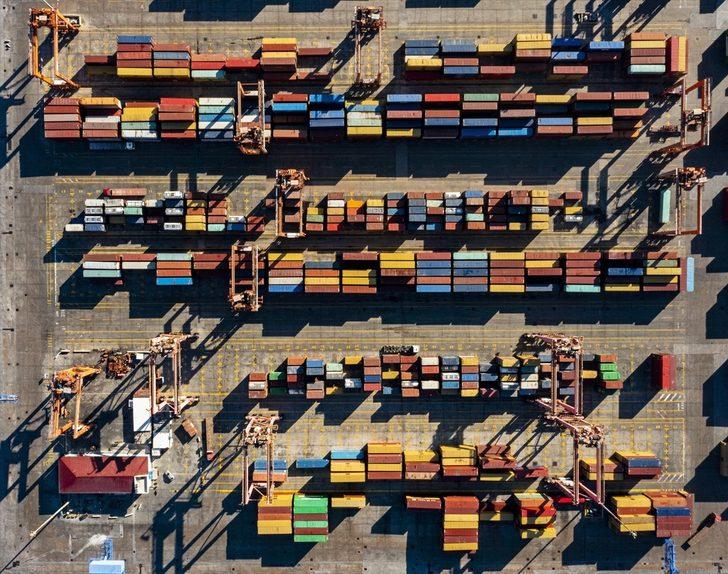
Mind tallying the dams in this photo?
none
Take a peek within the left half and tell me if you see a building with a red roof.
Yes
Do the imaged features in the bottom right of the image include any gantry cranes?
Yes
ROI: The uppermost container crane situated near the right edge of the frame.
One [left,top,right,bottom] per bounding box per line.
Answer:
[644,78,714,160]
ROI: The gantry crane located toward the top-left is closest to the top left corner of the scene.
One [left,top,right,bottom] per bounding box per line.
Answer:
[26,2,94,97]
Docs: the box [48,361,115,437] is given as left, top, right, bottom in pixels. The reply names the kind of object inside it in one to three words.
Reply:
container crane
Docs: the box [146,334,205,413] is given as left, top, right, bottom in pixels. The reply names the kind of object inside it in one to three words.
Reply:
container crane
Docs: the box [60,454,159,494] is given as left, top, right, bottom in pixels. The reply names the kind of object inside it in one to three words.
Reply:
building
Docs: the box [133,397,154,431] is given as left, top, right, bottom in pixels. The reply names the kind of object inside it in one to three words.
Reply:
shed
